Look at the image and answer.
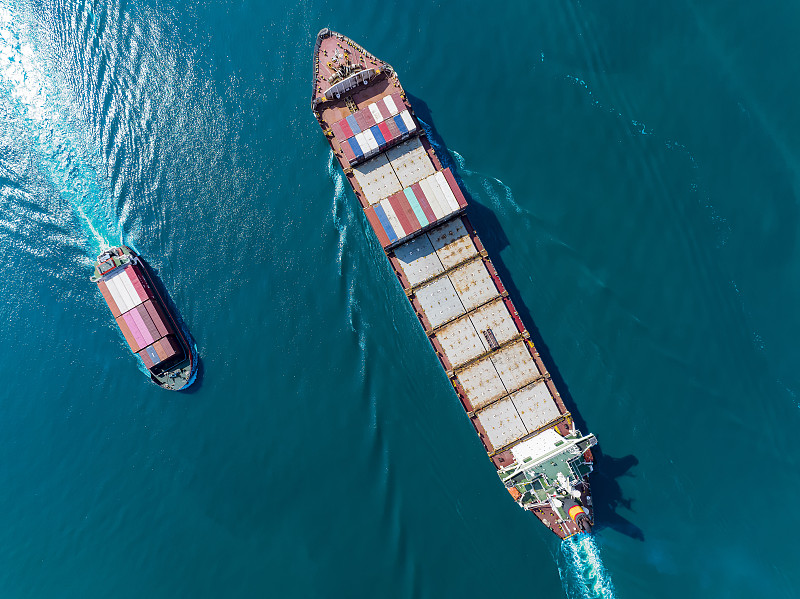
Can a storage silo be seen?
No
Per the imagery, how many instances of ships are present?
2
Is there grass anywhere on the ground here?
No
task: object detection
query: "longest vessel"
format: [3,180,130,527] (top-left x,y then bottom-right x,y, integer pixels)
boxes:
[313,28,597,540]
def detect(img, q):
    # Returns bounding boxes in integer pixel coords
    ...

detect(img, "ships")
[88,243,193,390]
[313,28,597,540]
